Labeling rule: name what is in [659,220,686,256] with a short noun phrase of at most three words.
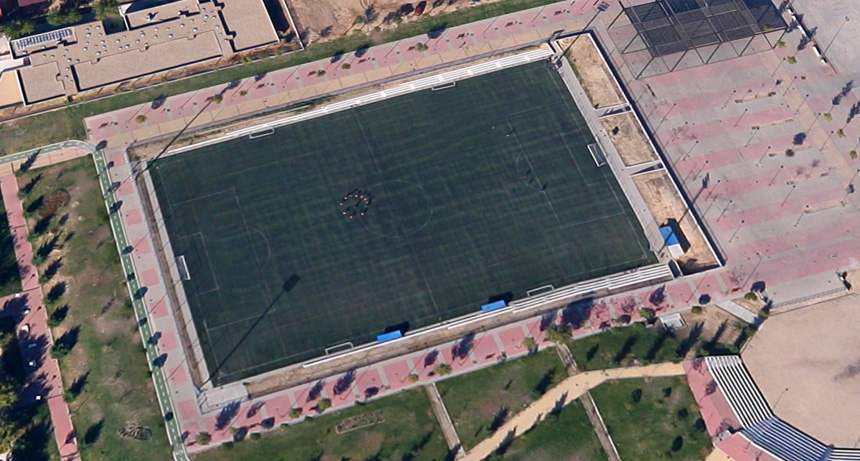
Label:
shed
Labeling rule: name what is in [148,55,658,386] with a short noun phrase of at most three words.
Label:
soccer field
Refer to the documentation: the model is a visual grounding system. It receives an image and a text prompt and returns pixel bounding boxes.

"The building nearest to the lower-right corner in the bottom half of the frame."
[660,310,686,331]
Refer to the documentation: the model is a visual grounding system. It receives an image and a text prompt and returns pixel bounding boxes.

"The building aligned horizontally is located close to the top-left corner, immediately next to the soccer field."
[9,0,281,113]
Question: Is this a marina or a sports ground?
sports ground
